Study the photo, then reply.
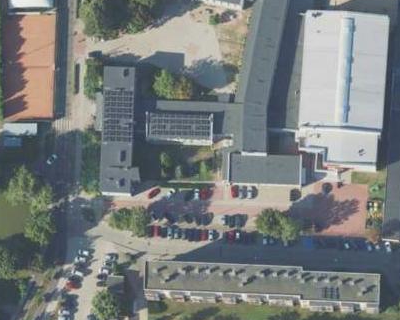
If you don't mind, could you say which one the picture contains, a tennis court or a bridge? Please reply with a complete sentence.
This aerial view contains a tennis court.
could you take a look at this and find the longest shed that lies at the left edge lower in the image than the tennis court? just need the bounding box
[2,123,37,137]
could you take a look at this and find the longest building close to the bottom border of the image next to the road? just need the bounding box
[144,261,380,312]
